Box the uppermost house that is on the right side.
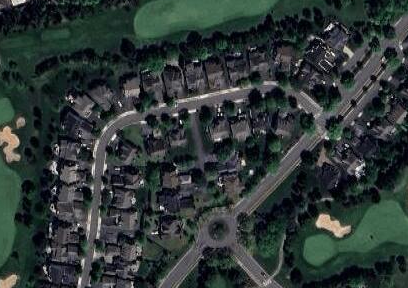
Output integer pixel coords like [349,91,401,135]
[325,21,364,51]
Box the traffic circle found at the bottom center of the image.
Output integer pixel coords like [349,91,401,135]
[196,208,239,249]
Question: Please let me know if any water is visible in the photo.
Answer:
No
